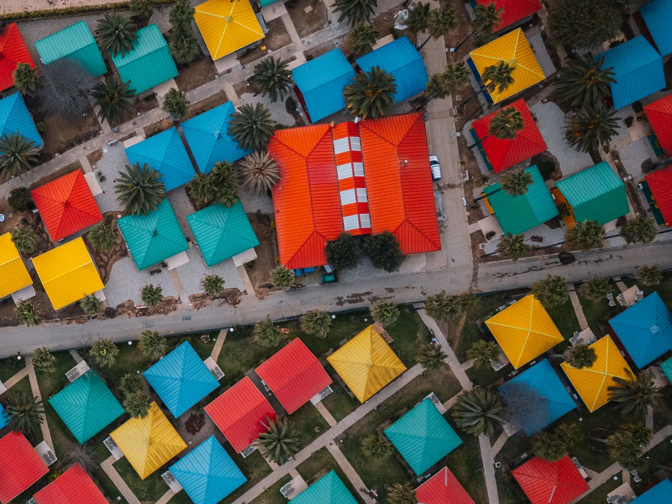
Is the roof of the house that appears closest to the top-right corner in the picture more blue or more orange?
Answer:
blue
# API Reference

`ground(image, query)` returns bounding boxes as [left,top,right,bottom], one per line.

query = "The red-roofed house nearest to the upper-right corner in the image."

[633,93,672,158]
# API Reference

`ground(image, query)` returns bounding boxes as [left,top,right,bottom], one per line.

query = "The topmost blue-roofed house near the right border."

[628,0,672,56]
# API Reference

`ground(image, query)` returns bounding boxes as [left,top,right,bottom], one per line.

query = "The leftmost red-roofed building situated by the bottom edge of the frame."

[0,430,50,504]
